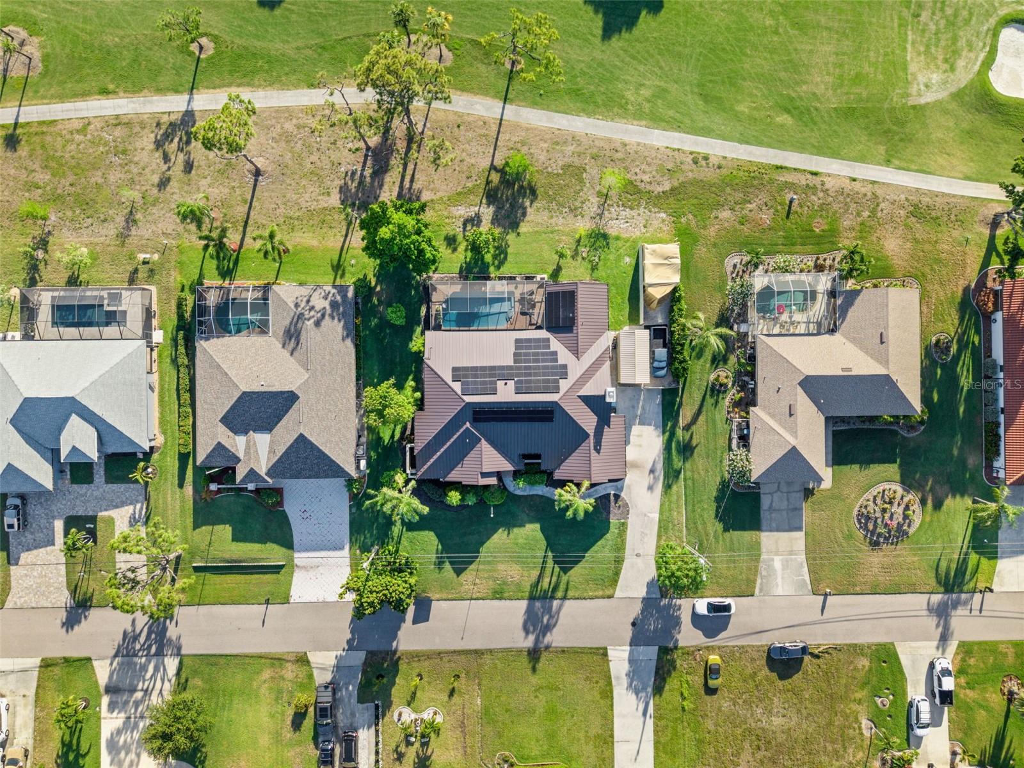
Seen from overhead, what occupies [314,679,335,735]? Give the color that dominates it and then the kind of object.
gray truck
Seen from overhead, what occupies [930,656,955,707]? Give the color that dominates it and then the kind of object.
white truck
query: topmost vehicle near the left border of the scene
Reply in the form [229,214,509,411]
[3,493,27,531]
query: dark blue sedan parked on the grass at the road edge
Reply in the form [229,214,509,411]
[767,640,807,659]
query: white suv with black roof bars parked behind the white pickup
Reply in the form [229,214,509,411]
[908,694,930,735]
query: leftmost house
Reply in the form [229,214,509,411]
[0,340,153,491]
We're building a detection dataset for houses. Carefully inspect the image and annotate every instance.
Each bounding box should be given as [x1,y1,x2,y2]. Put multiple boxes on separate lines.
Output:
[988,278,1024,485]
[747,285,920,483]
[414,281,626,485]
[195,285,356,484]
[0,340,153,491]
